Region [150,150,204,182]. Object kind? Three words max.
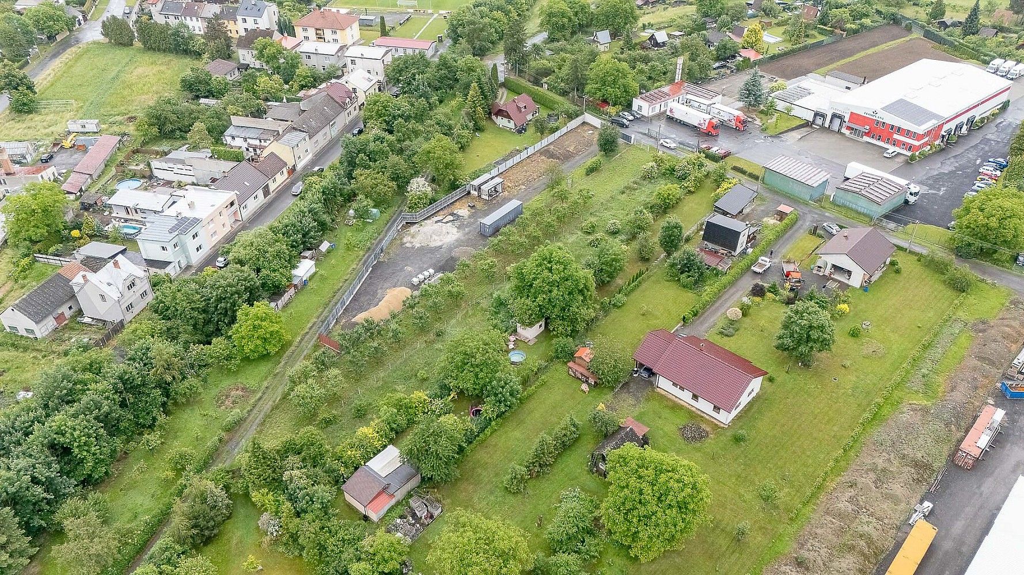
building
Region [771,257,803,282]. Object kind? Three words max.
truck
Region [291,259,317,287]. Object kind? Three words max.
shed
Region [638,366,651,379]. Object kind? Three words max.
vehicle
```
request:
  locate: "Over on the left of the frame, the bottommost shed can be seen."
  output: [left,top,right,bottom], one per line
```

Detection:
[346,444,421,522]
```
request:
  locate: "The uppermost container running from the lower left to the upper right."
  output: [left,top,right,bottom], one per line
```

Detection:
[479,200,524,236]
